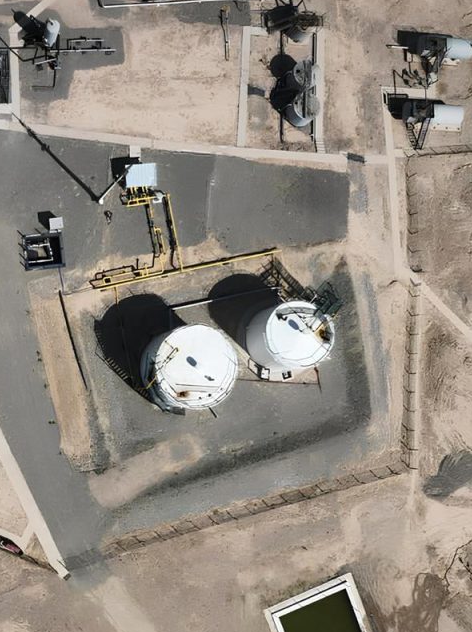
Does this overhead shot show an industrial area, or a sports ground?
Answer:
industrial area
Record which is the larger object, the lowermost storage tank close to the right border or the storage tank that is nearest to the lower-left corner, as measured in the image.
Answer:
the storage tank that is nearest to the lower-left corner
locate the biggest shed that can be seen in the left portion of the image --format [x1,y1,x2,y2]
[122,163,157,191]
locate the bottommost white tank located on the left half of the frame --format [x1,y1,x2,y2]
[135,324,240,417]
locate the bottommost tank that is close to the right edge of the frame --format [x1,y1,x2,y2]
[399,86,465,150]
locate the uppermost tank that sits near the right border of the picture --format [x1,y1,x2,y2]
[415,30,472,84]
